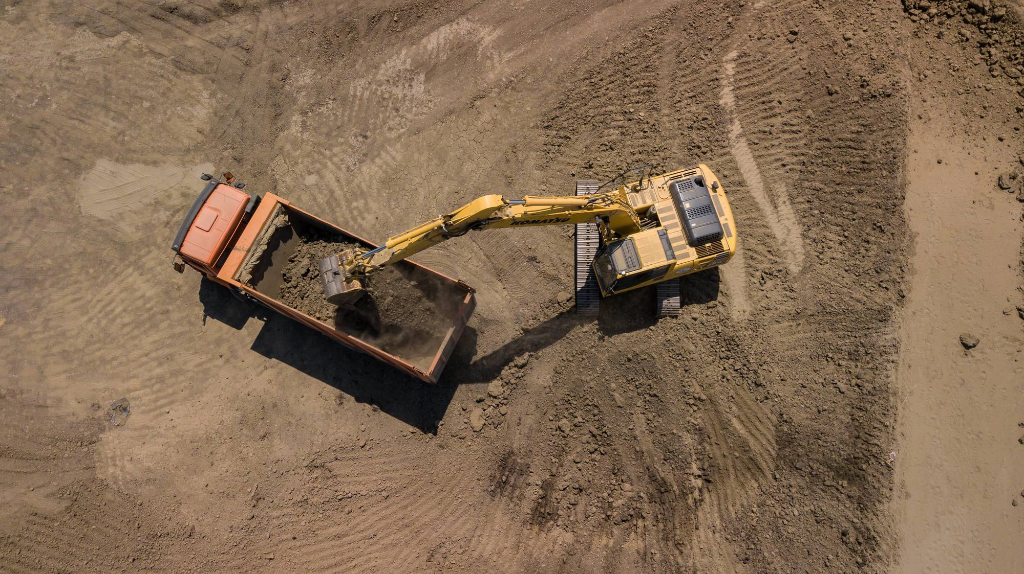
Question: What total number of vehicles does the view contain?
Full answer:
In total, 2 vehicles can be seen.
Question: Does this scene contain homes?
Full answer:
No, I can't see a single home in this photo.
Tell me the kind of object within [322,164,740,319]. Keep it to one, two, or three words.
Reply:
work vehicle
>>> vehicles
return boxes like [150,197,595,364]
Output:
[322,164,740,319]
[169,172,477,384]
